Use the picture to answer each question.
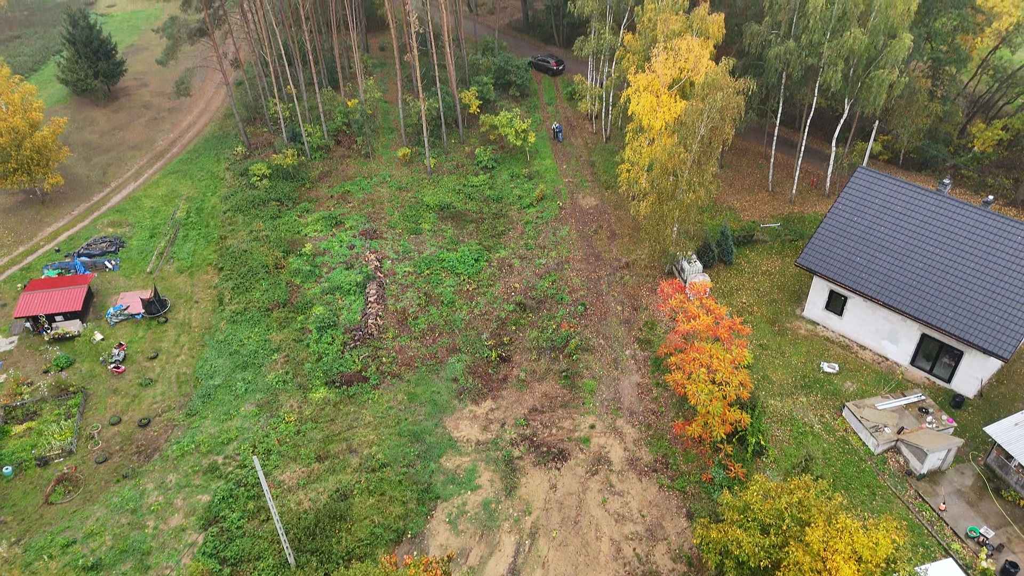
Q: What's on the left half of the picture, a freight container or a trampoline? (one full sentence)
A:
The feature located on the left half of the picture is a trampoline.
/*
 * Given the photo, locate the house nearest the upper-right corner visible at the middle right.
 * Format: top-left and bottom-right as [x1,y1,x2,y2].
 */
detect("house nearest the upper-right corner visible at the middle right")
[793,167,1024,399]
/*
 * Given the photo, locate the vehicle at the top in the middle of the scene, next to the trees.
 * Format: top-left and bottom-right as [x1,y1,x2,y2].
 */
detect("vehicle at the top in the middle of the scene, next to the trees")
[534,54,568,73]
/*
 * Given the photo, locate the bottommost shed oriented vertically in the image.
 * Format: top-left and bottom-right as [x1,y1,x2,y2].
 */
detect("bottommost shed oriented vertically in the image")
[985,411,1024,493]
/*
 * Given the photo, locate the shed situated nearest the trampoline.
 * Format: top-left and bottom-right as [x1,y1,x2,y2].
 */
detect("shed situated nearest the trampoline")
[12,273,106,342]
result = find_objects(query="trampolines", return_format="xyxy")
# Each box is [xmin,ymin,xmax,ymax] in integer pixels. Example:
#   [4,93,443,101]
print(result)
[137,275,172,311]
